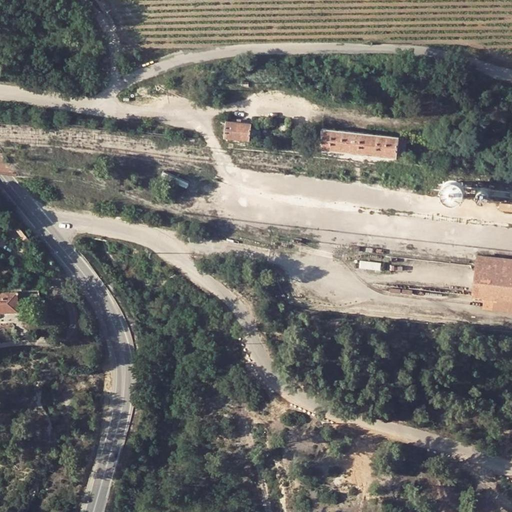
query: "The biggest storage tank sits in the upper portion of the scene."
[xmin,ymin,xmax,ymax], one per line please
[432,180,464,208]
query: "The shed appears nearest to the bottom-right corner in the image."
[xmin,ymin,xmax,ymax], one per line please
[472,252,512,310]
